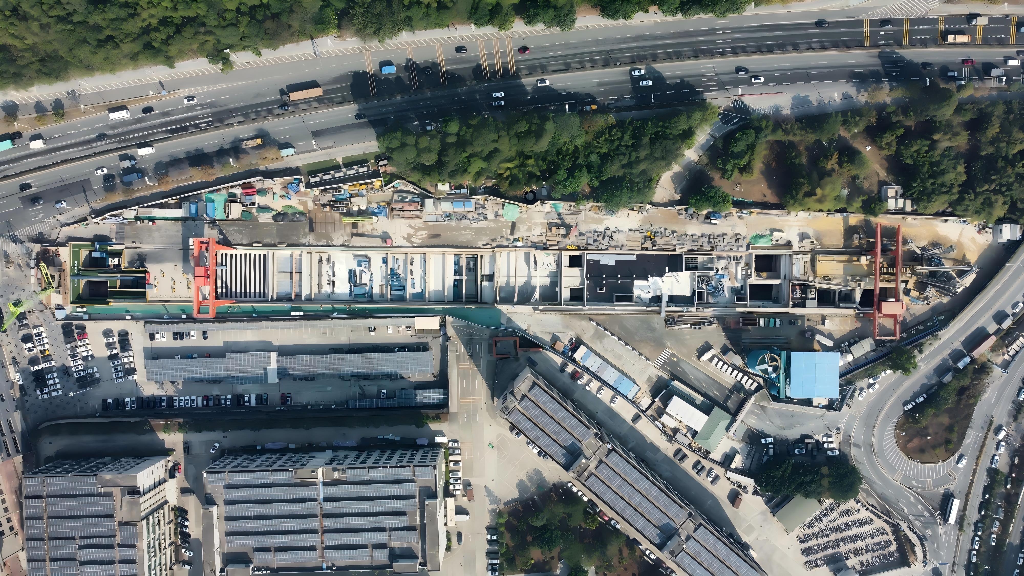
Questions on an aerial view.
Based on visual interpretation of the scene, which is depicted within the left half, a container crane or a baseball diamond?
container crane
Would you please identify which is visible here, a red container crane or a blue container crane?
red container crane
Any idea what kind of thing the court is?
basketball court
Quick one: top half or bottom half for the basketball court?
bottom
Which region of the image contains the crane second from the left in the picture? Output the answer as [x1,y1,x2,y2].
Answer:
[193,238,247,318]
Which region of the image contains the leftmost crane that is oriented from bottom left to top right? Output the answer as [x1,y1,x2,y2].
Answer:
[0,248,57,329]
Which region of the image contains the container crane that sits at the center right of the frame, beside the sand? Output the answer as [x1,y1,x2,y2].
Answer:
[846,222,906,339]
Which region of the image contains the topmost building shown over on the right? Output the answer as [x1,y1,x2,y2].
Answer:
[873,186,912,212]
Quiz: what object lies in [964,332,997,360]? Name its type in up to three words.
truck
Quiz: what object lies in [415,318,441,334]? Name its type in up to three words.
building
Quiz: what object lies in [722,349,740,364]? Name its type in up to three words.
vehicle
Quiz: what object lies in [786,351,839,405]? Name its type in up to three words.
shed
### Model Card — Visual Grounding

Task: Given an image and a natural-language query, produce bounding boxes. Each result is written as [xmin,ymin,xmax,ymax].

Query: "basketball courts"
[480,434,556,505]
